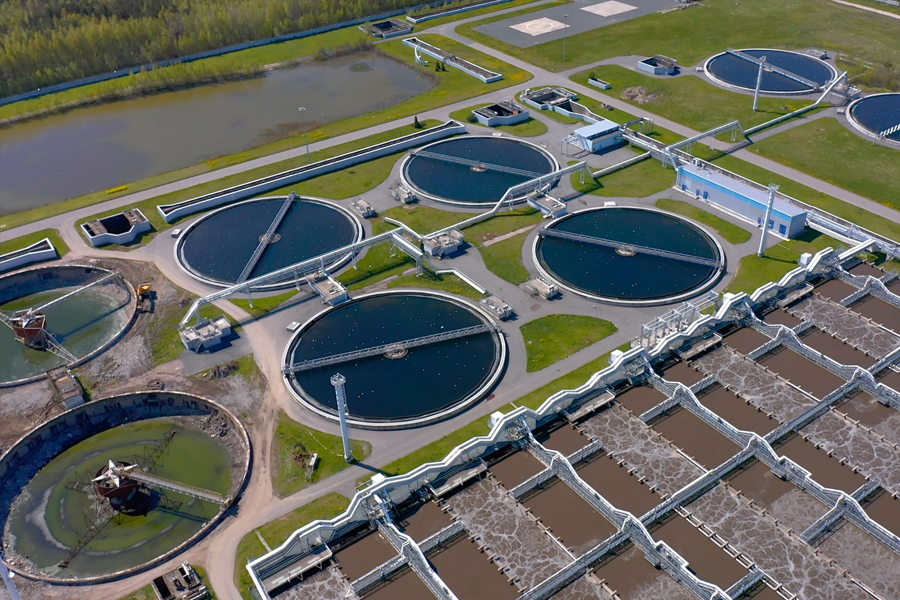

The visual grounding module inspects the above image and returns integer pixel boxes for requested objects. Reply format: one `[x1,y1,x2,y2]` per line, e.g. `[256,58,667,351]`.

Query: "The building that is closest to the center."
[420,223,466,258]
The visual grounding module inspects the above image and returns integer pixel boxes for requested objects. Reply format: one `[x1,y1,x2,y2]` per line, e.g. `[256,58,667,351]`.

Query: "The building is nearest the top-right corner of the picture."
[818,82,867,110]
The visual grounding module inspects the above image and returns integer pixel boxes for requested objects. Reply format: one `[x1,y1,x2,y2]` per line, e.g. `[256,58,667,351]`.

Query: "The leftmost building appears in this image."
[177,309,231,352]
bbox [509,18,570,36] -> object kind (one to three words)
helipad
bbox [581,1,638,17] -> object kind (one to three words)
helipad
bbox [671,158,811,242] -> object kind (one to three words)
building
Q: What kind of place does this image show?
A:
industrial area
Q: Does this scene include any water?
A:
Yes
